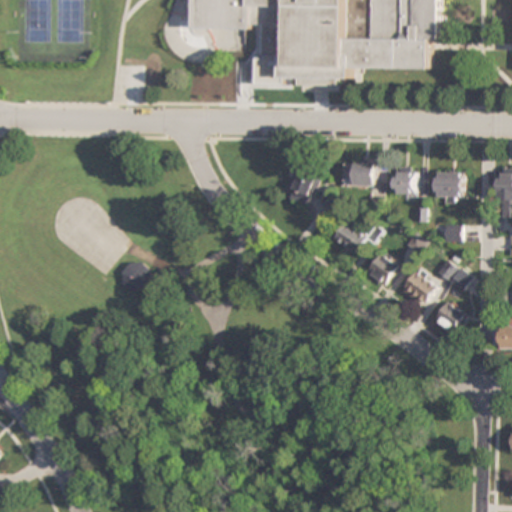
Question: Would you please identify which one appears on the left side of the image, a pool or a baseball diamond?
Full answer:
The one visible on the left side of the image is a baseball diamond.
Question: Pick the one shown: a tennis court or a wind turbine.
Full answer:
There is a tennis court in the scene.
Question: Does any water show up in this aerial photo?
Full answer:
No, the picture contains no water.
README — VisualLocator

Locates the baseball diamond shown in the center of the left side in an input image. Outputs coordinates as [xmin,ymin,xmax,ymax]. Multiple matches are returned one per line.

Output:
[56,198,128,274]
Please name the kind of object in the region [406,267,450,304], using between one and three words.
house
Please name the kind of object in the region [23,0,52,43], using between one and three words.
tennis court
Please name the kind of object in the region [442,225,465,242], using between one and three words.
building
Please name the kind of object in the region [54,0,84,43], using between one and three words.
tennis court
